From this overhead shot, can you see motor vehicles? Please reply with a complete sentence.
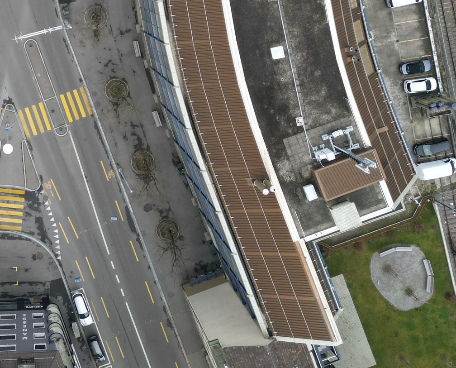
Yes, there is a motor vehicle in the image.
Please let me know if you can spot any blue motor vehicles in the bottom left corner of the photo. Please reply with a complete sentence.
No, no blue motor vehicle is visible in the bottom left corner of the photo.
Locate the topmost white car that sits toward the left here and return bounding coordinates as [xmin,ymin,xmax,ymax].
[71,288,94,327]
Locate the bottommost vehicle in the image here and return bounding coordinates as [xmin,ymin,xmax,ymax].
[86,332,107,363]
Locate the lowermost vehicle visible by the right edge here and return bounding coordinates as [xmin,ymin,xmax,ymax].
[413,156,456,183]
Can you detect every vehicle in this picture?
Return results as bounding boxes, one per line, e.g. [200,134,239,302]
[71,288,94,327]
[384,0,423,7]
[86,332,107,363]
[413,156,456,183]
[411,137,451,157]
[401,76,437,94]
[397,58,431,76]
